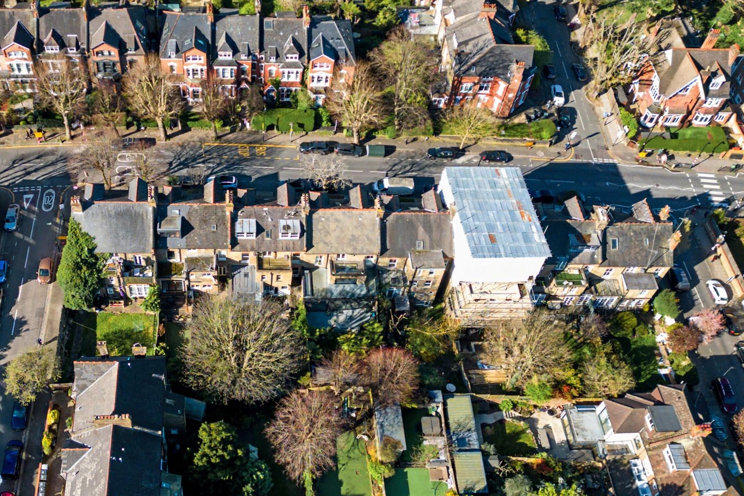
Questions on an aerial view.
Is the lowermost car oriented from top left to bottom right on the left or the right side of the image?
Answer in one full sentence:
The lowermost car oriented from top left to bottom right appears in the right half of the scene.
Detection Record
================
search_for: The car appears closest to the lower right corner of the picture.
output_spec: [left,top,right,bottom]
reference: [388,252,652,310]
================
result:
[702,375,744,417]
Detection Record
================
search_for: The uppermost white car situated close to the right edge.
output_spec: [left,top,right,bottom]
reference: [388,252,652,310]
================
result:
[701,278,736,307]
